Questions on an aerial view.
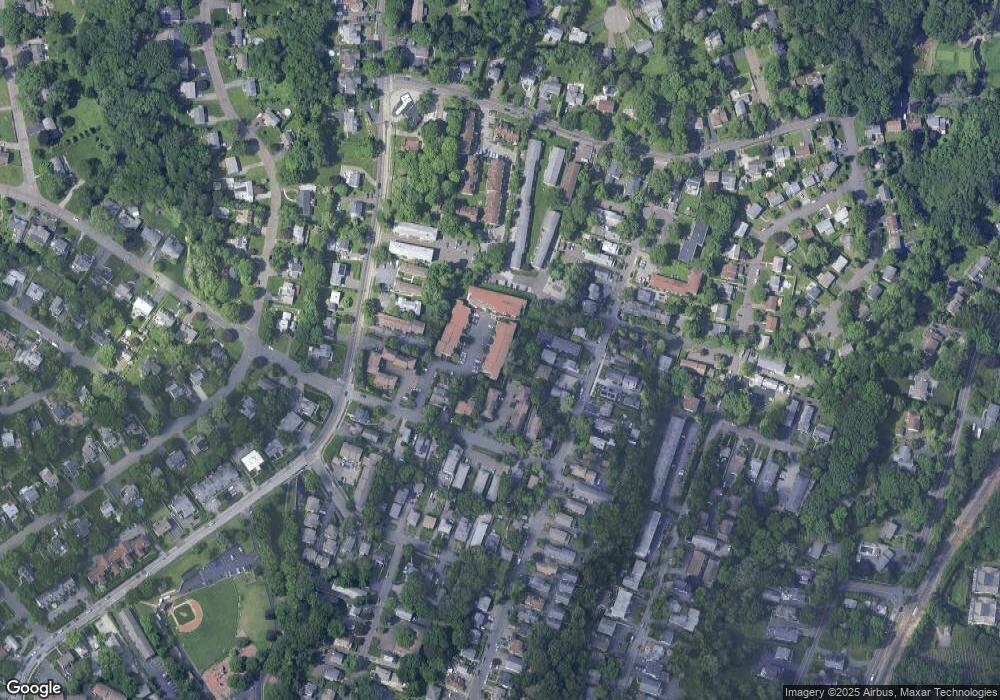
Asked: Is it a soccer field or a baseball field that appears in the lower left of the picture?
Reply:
baseball field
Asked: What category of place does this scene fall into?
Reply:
residential area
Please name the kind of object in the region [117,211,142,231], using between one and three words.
house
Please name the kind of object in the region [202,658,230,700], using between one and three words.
playground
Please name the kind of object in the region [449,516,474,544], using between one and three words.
house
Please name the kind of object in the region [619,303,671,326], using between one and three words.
building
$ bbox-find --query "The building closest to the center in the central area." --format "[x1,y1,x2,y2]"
[481,322,514,380]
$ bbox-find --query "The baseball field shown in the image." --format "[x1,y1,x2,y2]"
[168,577,239,673]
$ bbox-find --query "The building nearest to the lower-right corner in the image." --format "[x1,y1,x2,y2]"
[967,595,996,626]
